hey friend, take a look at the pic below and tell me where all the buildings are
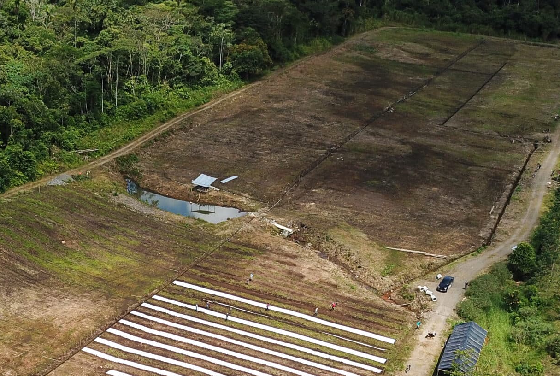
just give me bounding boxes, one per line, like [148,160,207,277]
[192,174,228,198]
[439,322,489,374]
